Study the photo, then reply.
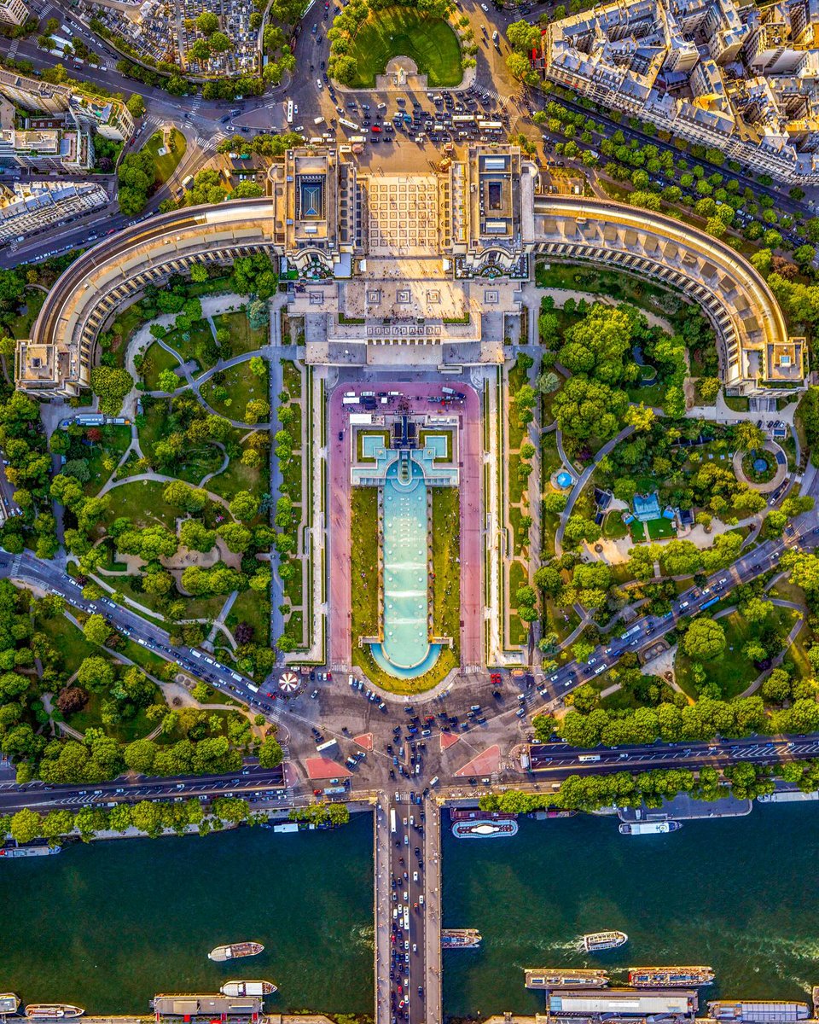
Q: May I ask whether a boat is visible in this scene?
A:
Yes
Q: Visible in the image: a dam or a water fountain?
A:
water fountain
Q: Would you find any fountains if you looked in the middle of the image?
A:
Yes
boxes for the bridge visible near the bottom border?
[372,798,446,1024]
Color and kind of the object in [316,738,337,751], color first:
white vehicle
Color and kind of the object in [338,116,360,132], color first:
white vehicle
